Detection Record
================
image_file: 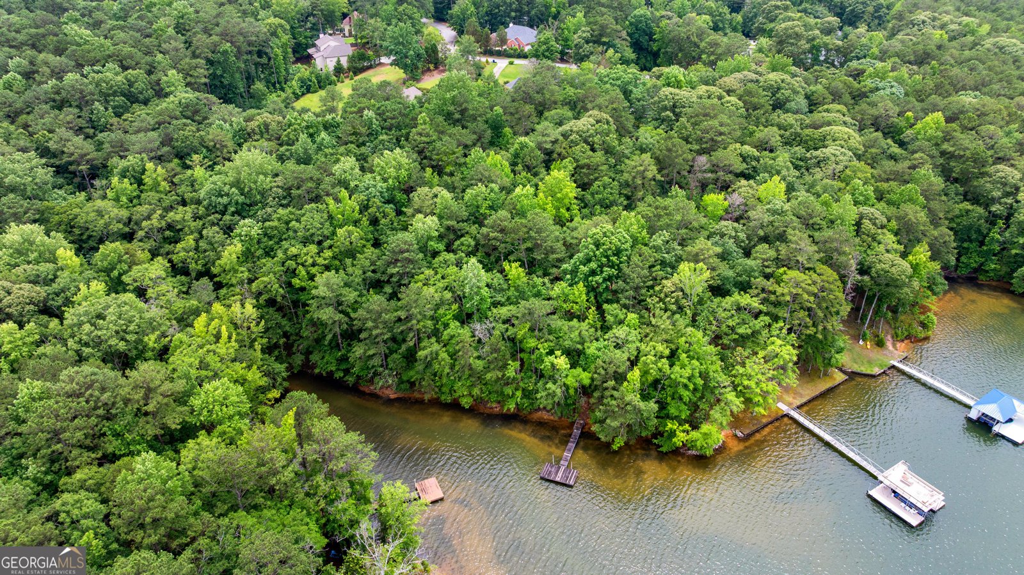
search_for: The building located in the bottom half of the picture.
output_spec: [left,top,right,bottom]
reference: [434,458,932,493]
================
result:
[966,387,1024,447]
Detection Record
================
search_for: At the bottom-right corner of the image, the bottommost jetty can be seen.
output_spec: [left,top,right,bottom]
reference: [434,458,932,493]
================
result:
[864,457,950,528]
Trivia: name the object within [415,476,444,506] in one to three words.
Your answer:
pier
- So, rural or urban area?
rural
